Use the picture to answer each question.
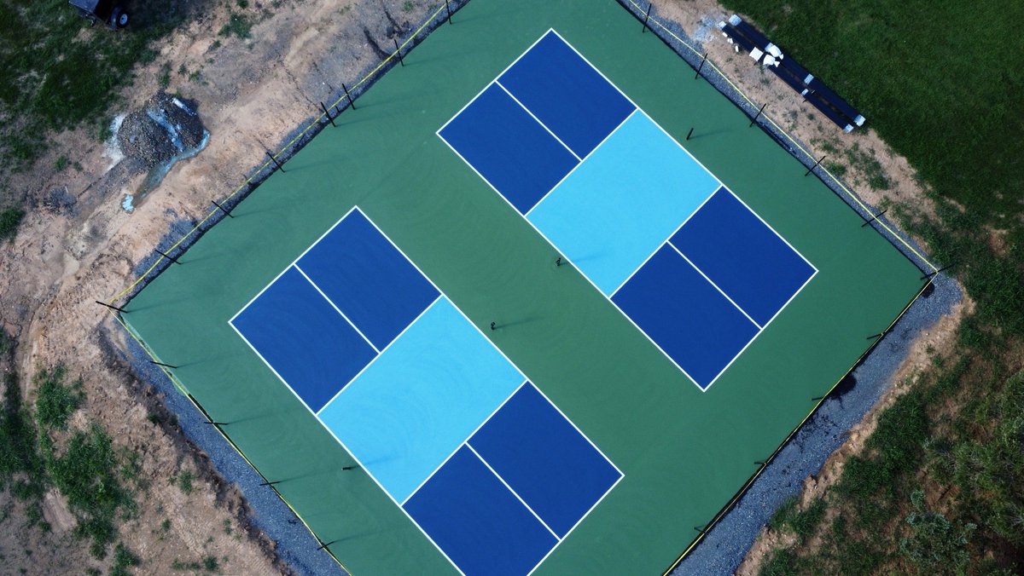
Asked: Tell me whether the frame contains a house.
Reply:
No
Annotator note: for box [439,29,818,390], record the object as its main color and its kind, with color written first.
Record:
blue sports court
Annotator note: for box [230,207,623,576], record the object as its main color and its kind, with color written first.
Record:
blue sports court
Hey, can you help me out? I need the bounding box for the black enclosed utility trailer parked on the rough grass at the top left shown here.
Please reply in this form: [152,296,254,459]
[67,0,126,28]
